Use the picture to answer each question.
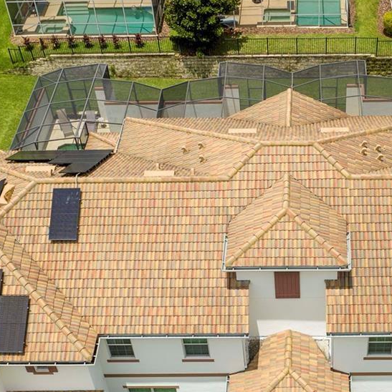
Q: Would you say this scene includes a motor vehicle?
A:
No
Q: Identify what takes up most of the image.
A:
buildings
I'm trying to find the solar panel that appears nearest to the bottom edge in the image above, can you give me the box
[0,296,28,352]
